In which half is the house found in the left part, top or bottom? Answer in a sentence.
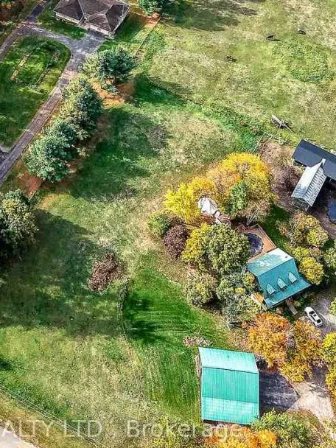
The house found in the left part sits in the top half of the picture.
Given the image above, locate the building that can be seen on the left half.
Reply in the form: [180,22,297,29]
[53,0,131,38]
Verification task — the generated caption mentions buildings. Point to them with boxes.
[53,0,131,38]
[290,141,336,212]
[240,248,311,310]
[198,347,260,427]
